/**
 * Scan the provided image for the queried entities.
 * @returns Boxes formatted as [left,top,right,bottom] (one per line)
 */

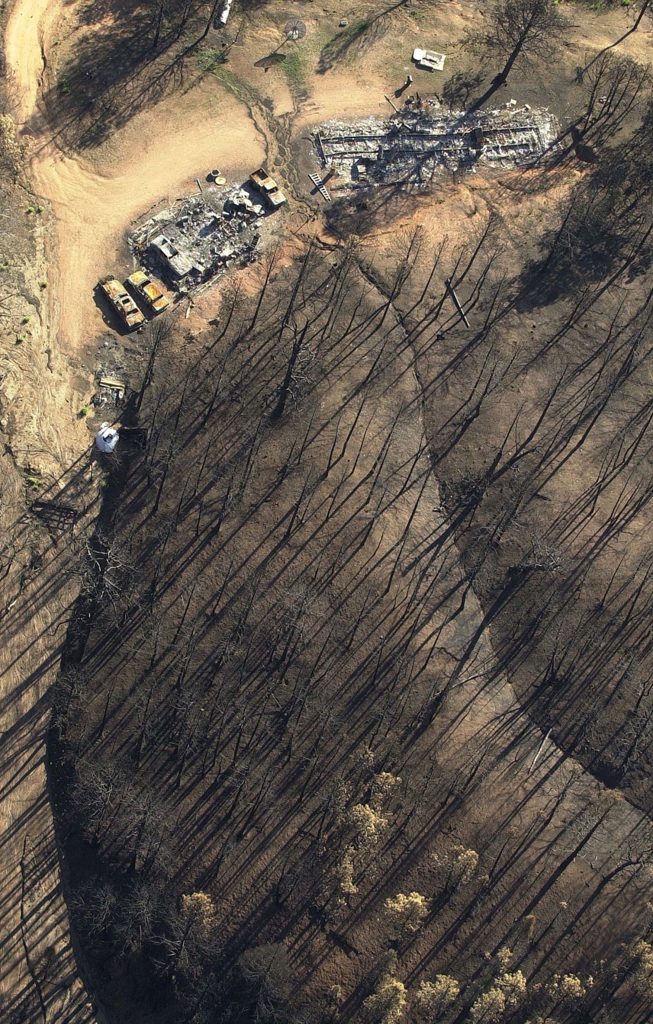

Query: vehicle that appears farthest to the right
[248,166,287,207]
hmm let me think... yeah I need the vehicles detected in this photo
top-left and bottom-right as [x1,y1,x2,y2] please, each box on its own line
[149,234,195,280]
[100,279,145,329]
[127,271,168,315]
[248,166,287,207]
